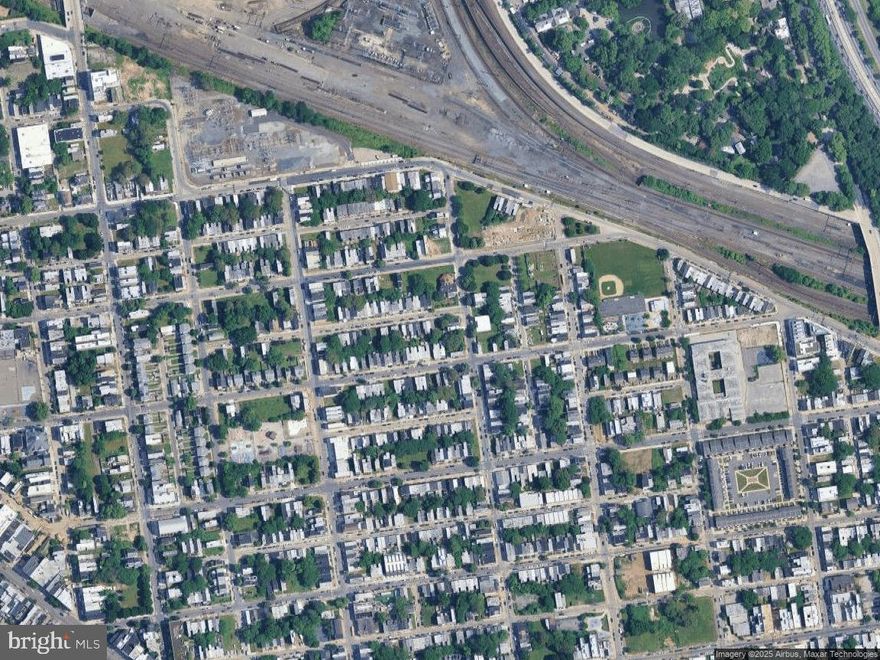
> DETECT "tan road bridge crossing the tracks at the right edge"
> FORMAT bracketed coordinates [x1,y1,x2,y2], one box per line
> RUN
[852,201,880,348]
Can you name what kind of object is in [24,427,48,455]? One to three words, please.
house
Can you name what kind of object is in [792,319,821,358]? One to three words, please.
house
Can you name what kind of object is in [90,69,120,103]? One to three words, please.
building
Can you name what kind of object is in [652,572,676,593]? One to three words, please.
building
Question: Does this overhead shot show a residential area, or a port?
residential area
